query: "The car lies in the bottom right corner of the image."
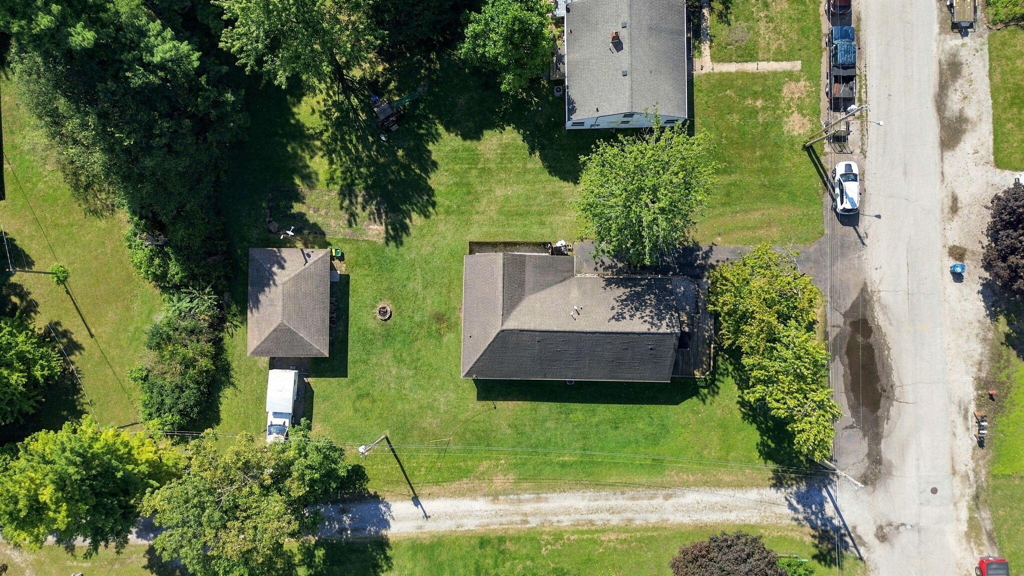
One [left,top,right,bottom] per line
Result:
[972,554,1009,576]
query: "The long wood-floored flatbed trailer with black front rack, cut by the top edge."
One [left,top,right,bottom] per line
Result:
[943,0,980,44]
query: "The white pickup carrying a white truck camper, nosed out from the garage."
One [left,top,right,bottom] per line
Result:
[268,368,306,447]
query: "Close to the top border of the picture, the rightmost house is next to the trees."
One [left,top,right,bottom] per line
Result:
[564,0,688,130]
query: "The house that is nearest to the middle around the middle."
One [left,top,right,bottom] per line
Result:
[460,253,680,383]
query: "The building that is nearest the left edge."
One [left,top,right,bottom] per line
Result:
[247,247,333,358]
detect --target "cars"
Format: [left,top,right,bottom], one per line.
[972,554,1009,576]
[829,162,861,218]
[823,0,850,19]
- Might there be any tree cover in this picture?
Yes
